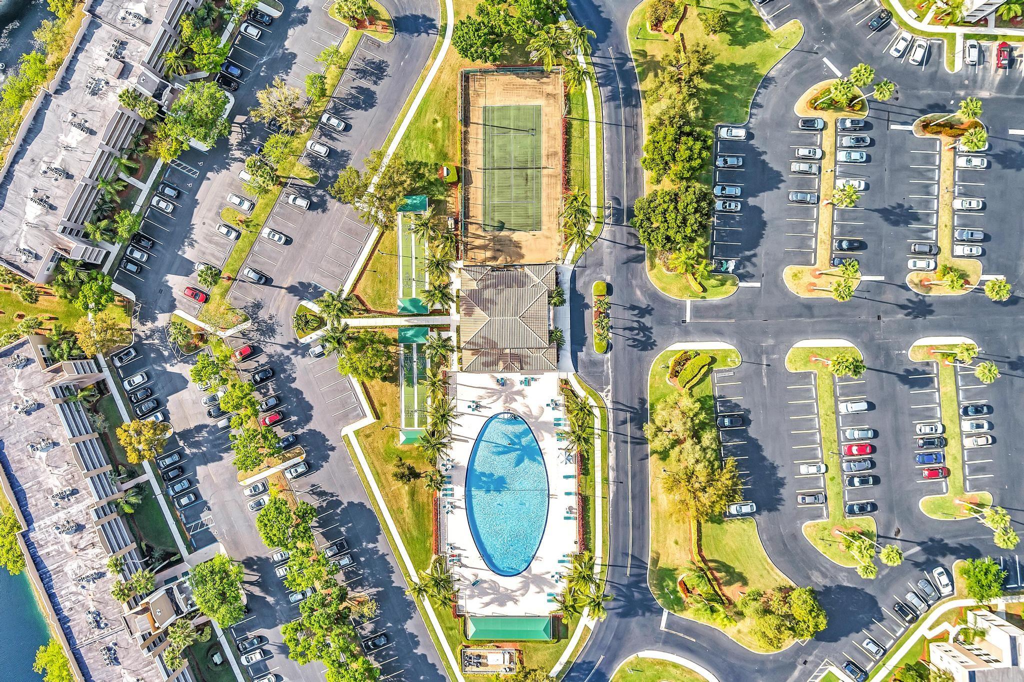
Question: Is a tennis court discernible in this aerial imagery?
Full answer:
Yes, this view includes a tennis court.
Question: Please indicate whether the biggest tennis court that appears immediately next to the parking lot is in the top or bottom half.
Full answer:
It is in the top half that the biggest tennis court that appears immediately next to the parking lot appears.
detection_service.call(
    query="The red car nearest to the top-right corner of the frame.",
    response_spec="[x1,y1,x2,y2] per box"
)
[996,42,1011,69]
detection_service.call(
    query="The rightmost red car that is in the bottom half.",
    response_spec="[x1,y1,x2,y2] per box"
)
[921,467,949,479]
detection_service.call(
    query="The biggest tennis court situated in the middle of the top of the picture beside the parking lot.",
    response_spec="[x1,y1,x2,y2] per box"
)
[463,70,563,264]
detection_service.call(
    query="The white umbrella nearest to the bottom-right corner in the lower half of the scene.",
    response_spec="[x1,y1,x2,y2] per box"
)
[558,450,573,465]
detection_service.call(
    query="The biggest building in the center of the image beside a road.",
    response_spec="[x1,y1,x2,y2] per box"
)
[460,265,557,375]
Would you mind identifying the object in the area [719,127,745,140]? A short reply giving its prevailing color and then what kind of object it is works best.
white vehicle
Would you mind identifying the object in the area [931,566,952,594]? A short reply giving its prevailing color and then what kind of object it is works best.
white car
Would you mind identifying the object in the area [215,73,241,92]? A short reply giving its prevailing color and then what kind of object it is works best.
black car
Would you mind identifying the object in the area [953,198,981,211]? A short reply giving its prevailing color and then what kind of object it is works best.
white vehicle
